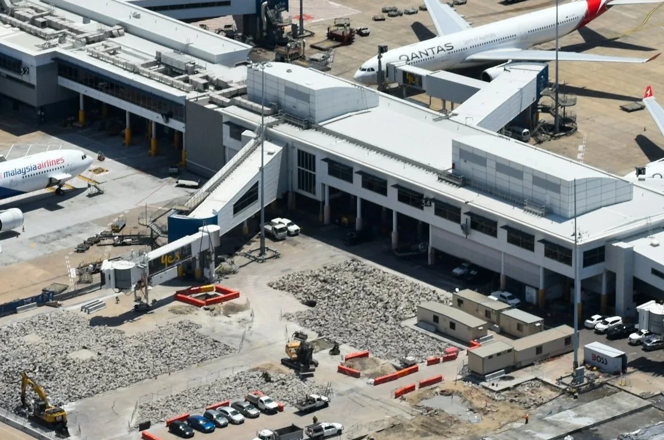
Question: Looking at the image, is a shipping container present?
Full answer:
Yes, there's a shipping container here.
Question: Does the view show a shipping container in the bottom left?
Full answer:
No, no shipping container is visible in the bottom left.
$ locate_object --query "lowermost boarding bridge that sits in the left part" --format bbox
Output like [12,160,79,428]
[88,228,226,307]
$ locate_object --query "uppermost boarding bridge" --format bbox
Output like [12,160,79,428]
[343,59,502,131]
